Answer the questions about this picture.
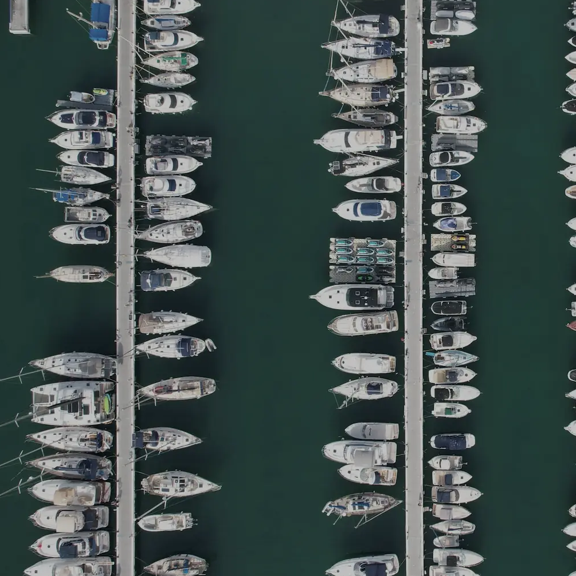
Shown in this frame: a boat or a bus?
boat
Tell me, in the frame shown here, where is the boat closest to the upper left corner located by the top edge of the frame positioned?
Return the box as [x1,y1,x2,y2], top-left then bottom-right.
[66,0,116,52]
